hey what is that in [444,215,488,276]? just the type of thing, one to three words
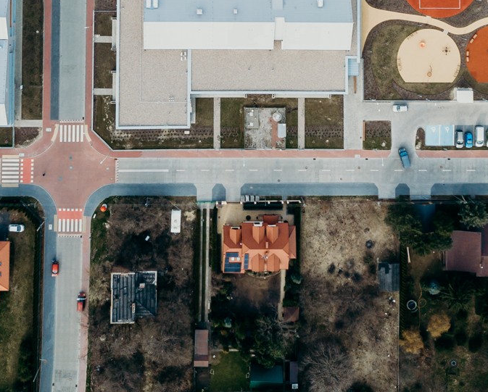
house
